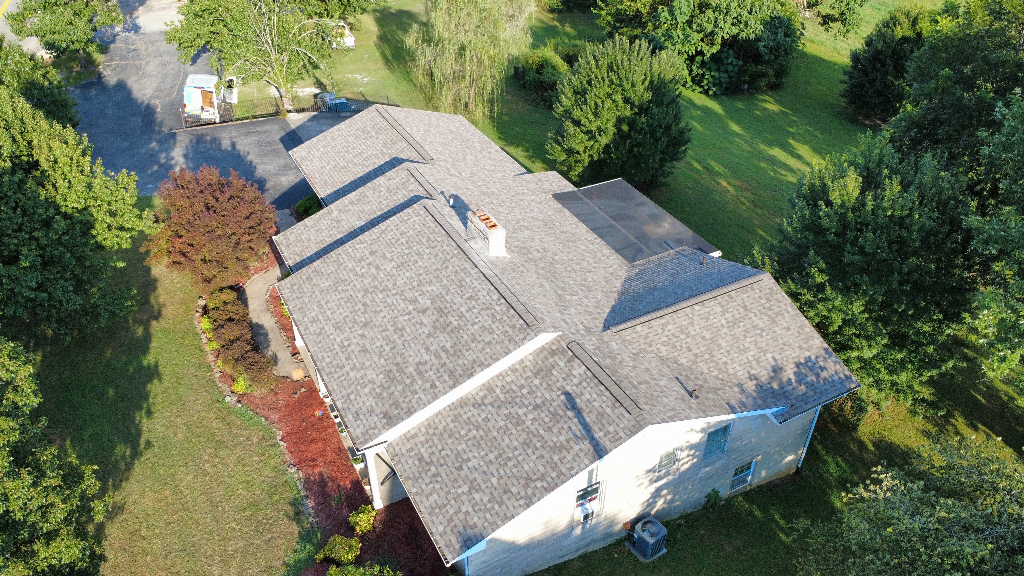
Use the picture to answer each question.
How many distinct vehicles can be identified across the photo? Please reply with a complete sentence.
Altogether the scene contains 3 vehicles.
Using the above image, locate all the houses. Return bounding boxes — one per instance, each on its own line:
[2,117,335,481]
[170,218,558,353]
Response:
[272,104,866,576]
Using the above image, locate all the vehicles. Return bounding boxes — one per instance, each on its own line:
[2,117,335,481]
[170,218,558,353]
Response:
[326,25,357,54]
[176,72,240,124]
[305,90,354,112]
